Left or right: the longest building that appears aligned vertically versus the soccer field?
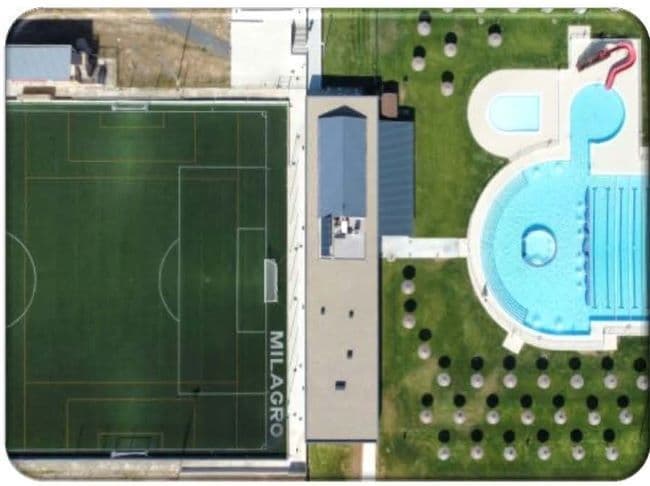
on the right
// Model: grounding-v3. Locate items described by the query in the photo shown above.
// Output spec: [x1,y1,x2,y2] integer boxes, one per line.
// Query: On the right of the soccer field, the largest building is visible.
[308,96,380,441]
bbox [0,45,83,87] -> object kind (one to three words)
building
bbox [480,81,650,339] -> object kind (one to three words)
swimming pool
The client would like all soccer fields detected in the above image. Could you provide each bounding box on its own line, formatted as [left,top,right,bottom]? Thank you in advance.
[0,103,288,459]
